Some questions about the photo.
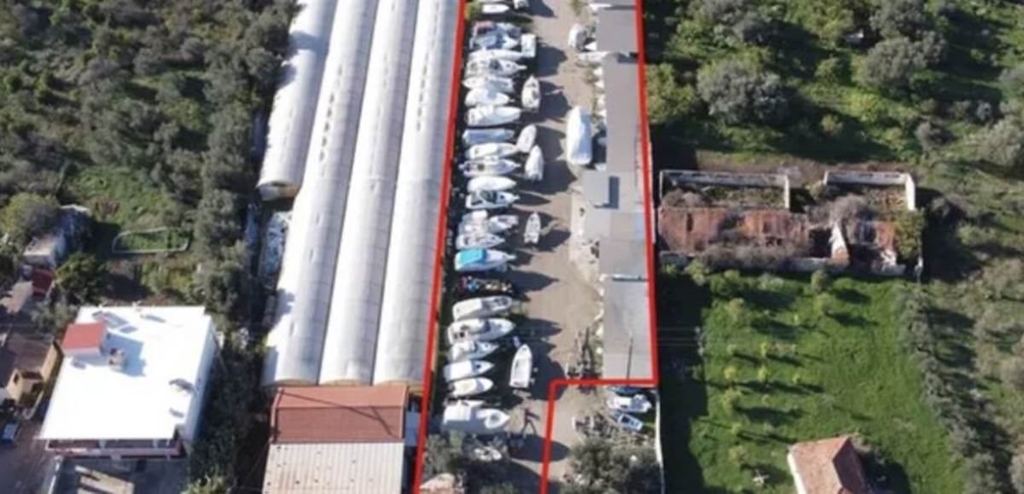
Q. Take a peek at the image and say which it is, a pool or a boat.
boat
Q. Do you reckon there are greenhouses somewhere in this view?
Yes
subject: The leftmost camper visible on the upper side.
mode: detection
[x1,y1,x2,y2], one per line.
[522,31,536,55]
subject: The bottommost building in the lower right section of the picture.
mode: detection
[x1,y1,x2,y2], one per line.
[789,435,871,494]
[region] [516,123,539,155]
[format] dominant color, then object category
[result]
white boat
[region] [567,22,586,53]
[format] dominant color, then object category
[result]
white boat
